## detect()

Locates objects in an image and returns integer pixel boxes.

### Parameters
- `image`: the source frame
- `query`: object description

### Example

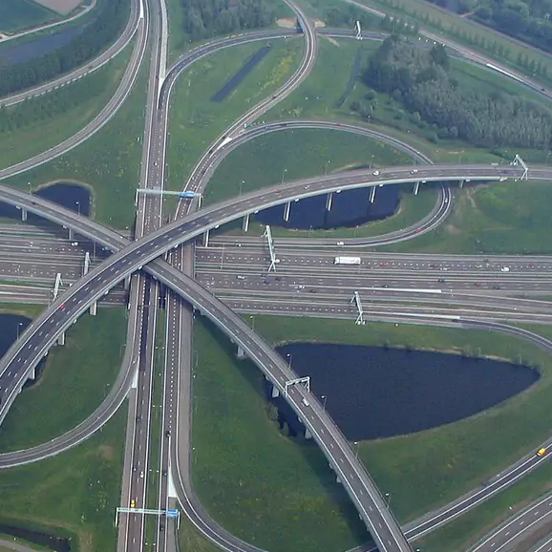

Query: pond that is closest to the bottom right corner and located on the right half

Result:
[264,343,540,442]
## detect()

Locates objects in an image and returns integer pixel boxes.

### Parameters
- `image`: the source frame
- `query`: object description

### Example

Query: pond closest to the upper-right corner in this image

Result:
[251,165,401,231]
